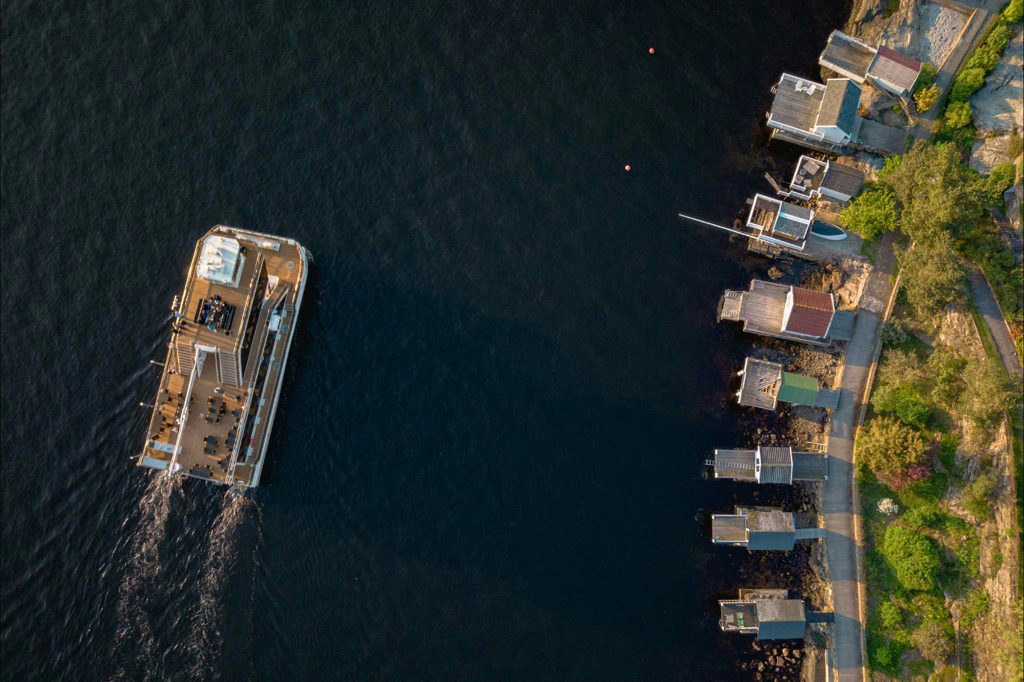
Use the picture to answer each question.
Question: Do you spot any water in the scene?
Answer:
Yes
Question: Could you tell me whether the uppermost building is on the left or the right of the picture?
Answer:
right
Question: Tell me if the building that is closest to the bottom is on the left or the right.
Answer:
right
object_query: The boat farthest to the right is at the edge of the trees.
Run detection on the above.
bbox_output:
[808,219,848,241]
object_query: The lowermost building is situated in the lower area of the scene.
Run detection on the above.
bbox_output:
[714,588,807,640]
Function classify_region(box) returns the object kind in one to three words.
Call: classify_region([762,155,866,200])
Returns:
building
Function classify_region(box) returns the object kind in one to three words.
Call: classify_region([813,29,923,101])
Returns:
building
